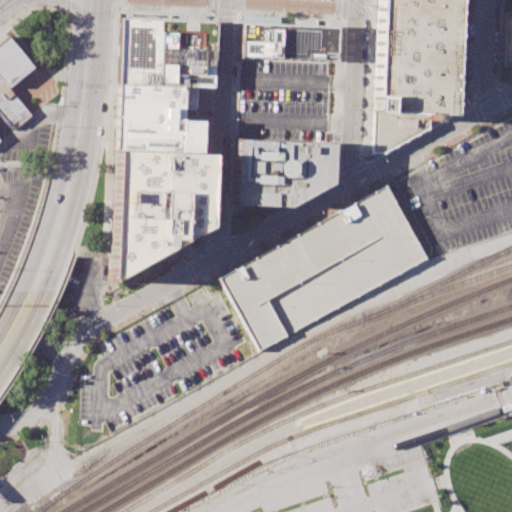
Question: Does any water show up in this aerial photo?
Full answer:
No, the picture contains no water.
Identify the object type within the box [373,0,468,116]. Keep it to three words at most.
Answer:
building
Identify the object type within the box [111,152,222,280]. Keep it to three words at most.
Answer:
building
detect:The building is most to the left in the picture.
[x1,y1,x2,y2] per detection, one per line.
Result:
[0,38,36,128]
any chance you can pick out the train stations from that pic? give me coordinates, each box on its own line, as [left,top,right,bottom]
[258,347,512,450]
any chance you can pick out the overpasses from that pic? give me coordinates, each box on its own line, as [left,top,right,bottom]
[0,257,79,400]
